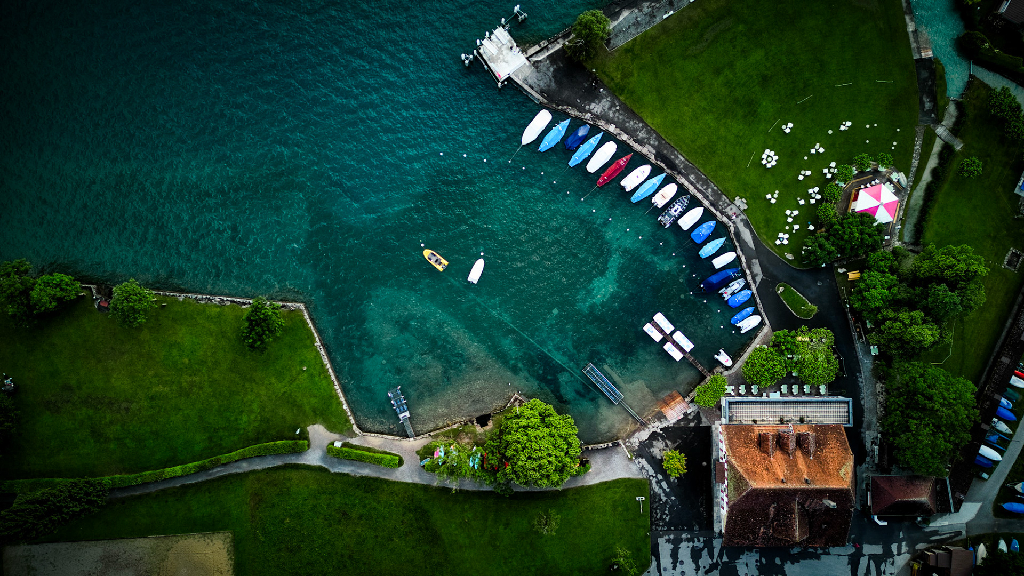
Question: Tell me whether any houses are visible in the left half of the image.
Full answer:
No, in the left half of the image there is no house.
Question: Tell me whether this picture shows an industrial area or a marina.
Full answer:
What you see here is a marina.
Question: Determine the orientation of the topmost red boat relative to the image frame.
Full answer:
I'd say the topmost red boat is aligned on a diagonal in the picture.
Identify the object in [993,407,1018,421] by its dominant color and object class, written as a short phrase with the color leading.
blue boat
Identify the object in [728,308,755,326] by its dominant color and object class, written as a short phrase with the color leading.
blue boat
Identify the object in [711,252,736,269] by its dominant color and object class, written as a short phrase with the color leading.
white boat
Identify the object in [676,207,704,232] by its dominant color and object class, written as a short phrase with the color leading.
white boat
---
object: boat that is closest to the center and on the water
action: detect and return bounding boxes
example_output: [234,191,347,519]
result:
[468,258,484,285]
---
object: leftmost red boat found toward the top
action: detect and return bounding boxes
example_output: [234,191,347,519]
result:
[596,153,633,188]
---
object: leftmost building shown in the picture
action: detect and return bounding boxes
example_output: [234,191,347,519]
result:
[710,396,860,546]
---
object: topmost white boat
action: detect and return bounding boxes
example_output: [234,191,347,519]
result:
[521,107,551,145]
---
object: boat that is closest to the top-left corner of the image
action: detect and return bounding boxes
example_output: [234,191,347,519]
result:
[423,250,448,271]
